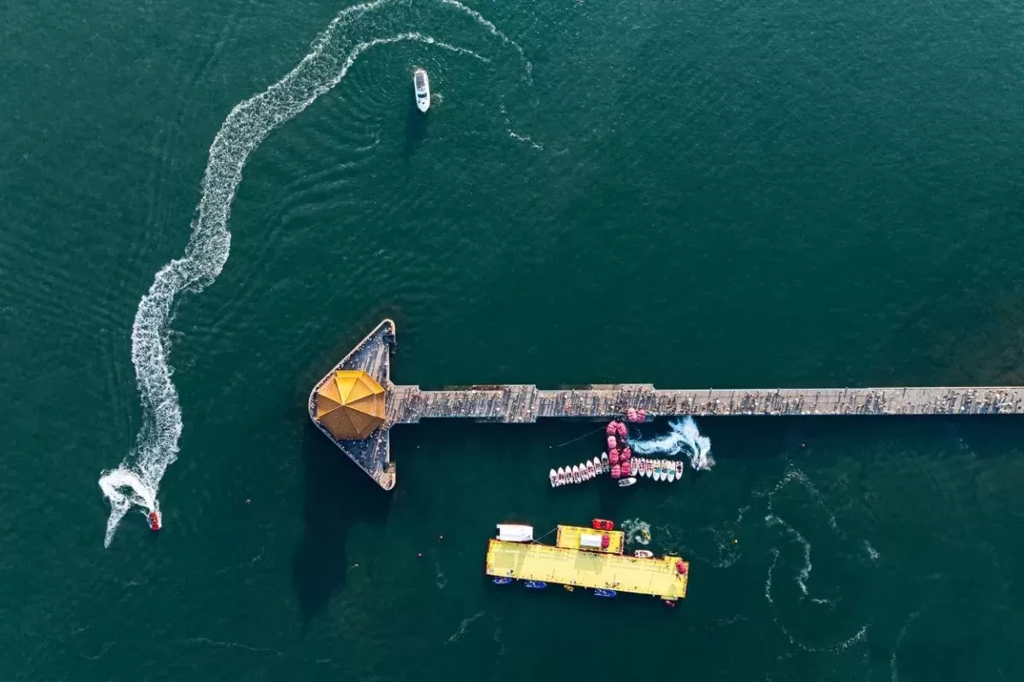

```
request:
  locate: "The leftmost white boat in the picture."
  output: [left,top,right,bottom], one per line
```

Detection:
[413,66,431,112]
